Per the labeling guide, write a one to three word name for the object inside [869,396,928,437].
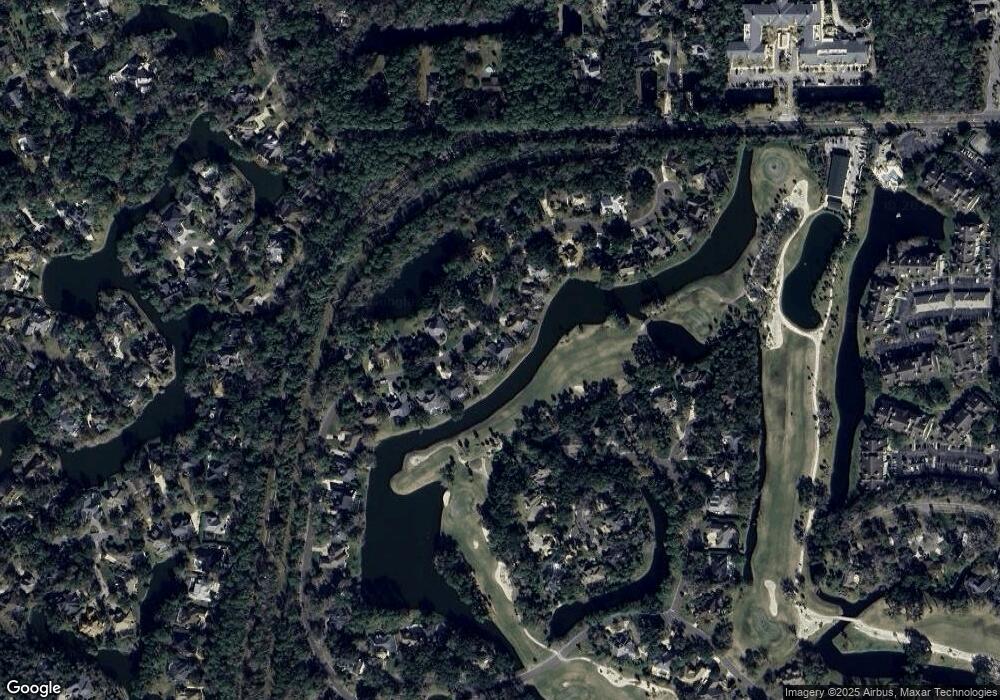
building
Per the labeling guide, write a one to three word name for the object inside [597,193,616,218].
house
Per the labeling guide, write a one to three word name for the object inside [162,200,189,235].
house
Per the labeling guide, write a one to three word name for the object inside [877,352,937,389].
building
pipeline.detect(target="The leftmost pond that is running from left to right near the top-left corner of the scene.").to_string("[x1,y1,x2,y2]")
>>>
[124,5,229,57]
